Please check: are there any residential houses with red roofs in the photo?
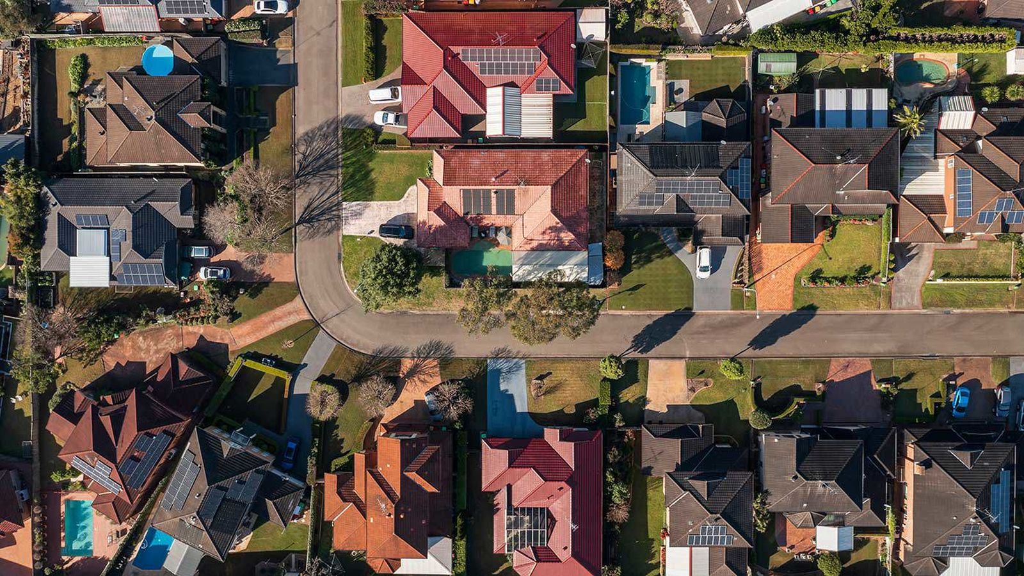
Yes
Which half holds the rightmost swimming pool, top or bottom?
top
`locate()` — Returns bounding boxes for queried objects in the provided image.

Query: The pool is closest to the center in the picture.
[449,247,516,277]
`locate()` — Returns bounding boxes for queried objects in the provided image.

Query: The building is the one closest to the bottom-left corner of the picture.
[0,464,29,533]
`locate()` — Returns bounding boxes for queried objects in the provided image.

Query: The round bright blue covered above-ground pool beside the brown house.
[142,44,173,75]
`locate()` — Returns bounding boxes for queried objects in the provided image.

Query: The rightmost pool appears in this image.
[894,54,951,87]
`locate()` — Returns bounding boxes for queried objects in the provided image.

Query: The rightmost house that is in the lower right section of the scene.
[900,424,1024,576]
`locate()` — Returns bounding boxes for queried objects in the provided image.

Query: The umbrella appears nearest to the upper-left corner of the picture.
[496,228,512,244]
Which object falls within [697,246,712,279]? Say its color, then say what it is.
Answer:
white vehicle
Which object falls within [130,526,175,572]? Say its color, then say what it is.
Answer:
blue swimming pool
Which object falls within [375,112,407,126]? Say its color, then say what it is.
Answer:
white vehicle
